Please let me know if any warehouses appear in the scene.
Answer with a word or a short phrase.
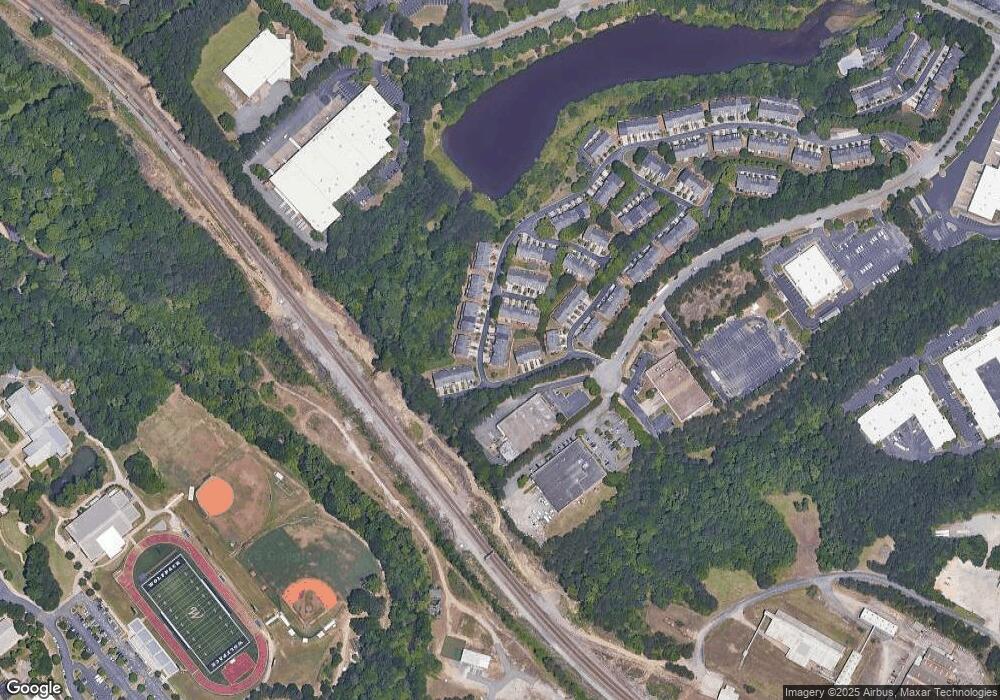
Yes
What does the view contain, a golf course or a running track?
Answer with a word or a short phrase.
running track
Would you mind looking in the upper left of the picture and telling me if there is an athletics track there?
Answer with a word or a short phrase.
No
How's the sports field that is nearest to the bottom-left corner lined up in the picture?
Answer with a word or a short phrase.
at an angle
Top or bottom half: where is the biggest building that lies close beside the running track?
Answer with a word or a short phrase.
bottom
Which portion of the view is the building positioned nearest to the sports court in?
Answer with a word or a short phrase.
bottom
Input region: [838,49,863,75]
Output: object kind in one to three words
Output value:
building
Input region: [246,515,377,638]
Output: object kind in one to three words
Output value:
baseball field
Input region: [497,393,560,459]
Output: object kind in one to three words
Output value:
building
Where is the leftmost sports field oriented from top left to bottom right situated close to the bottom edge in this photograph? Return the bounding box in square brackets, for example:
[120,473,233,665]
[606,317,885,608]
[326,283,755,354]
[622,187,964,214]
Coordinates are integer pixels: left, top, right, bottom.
[132,544,259,684]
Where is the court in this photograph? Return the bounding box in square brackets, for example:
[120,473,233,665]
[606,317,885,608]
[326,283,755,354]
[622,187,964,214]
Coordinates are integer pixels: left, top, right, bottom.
[441,636,467,662]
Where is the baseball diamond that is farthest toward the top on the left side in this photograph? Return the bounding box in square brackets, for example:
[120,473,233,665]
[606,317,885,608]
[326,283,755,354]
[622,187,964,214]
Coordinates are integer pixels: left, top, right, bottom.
[195,478,234,515]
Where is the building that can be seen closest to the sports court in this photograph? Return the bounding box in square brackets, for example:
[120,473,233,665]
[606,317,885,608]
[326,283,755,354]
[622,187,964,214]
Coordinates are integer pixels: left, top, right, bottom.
[461,648,491,669]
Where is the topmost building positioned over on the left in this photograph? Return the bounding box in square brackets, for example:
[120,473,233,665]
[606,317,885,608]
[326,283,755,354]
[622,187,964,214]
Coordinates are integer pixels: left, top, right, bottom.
[223,28,290,98]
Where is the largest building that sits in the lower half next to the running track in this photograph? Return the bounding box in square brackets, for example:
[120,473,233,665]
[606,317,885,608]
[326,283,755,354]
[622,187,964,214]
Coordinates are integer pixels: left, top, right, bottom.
[64,488,140,562]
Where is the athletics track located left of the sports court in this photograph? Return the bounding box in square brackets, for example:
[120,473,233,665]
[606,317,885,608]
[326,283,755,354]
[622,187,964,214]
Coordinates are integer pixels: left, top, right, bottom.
[109,533,270,695]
